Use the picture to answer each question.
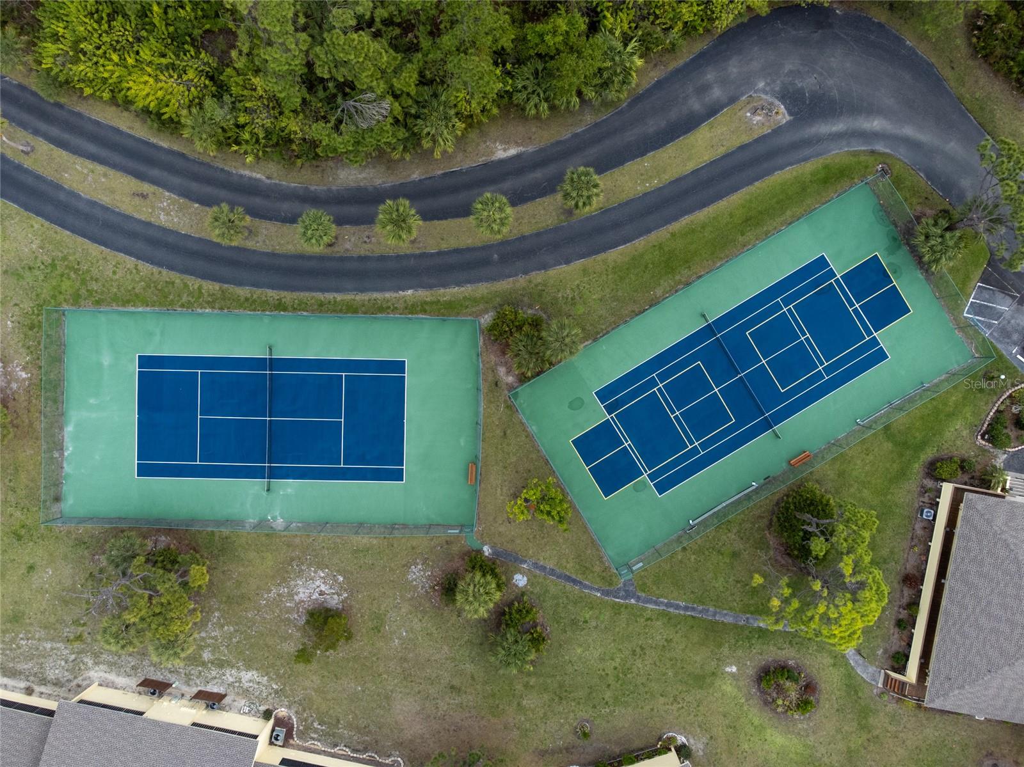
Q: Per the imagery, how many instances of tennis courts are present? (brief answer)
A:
two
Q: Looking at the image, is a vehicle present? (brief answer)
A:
No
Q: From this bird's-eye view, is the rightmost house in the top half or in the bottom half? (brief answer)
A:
bottom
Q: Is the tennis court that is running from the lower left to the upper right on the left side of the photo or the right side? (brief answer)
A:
right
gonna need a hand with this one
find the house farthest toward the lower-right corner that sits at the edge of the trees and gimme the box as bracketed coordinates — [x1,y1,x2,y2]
[879,469,1024,724]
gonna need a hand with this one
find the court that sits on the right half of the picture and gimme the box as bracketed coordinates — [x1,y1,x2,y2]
[511,182,973,571]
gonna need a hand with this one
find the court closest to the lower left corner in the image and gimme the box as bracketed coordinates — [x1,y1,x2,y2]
[62,311,483,525]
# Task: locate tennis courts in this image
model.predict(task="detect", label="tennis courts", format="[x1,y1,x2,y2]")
[62,311,483,525]
[511,182,973,571]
